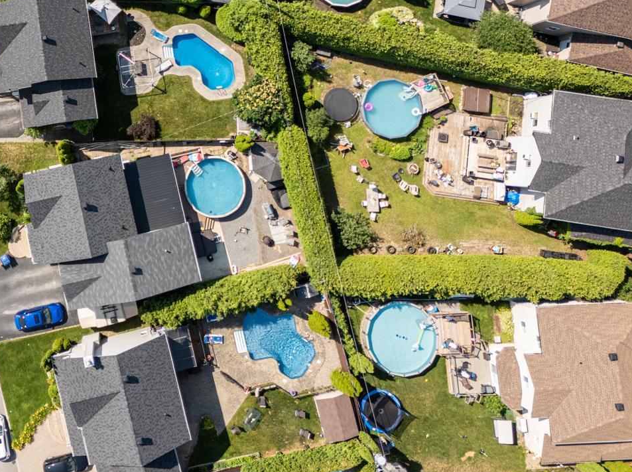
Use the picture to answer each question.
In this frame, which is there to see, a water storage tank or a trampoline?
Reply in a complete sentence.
The one in the frame is a trampoline.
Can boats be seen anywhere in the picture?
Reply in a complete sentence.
No, I can see no boat in this picture.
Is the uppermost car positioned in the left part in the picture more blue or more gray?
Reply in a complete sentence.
In this view, the uppermost car positioned in the left part is blue.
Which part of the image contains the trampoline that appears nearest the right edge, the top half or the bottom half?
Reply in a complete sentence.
The trampoline that appears nearest the right edge is in the bottom half of the image.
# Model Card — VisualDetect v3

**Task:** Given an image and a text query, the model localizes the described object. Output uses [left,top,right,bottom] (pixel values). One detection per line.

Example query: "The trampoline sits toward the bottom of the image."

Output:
[361,391,408,439]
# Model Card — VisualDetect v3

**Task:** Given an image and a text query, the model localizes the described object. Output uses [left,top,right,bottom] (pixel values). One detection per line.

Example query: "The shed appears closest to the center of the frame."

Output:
[246,143,285,183]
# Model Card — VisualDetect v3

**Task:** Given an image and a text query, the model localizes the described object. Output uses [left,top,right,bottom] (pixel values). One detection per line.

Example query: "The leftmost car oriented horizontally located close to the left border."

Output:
[15,302,64,329]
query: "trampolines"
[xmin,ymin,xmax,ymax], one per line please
[321,87,358,123]
[361,391,408,439]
